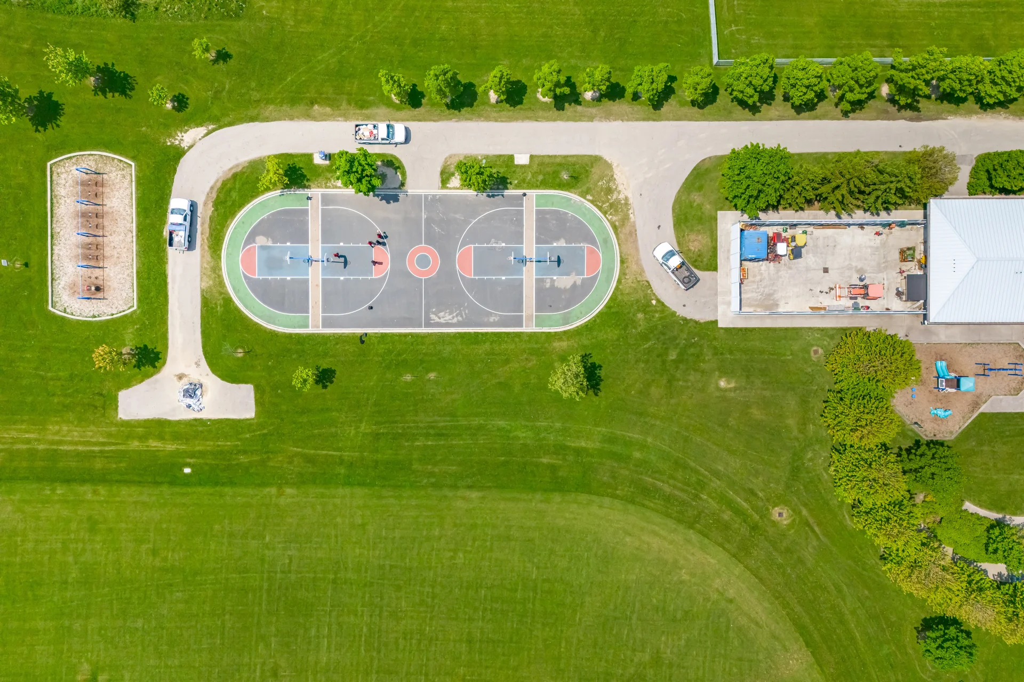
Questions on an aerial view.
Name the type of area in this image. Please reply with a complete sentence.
The area seen from above is a sports ground.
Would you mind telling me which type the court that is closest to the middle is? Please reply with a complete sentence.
I'd identify the court that is closest to the middle as a basketball court.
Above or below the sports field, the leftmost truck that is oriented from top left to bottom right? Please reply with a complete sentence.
The leftmost truck that is oriented from top left to bottom right is above the sports field.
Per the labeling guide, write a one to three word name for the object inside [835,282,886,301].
work vehicle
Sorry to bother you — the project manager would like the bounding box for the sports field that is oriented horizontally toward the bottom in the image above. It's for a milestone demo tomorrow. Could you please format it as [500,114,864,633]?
[0,483,821,682]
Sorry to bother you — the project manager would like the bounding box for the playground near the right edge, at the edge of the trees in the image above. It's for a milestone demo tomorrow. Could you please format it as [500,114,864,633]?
[890,342,1024,439]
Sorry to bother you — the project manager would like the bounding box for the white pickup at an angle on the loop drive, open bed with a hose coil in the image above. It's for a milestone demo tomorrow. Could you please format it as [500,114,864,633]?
[653,242,699,291]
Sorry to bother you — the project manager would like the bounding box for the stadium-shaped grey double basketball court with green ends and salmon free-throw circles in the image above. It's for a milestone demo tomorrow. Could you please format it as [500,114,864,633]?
[221,189,620,332]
